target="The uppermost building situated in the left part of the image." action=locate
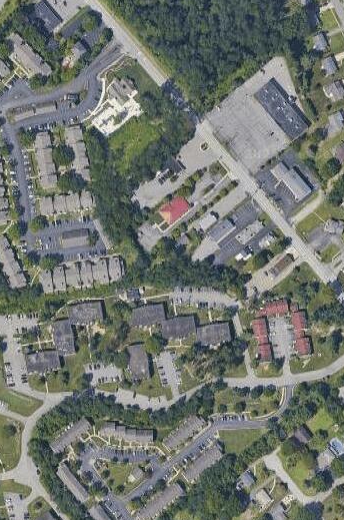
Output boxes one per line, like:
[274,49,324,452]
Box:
[34,0,63,30]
